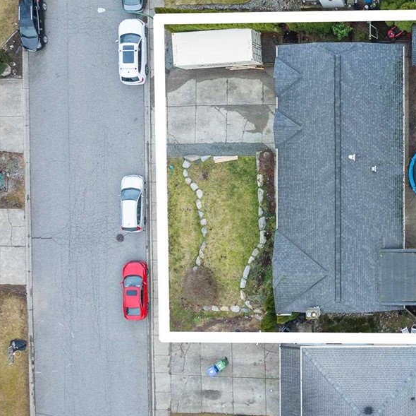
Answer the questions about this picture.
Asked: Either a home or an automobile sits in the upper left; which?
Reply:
automobile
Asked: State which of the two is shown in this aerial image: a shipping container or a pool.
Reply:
shipping container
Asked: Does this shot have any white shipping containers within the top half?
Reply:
Yes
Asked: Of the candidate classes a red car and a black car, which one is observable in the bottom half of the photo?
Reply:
red car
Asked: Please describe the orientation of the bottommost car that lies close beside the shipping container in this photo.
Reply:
from top to bottom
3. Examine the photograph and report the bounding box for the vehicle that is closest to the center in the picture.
[117,175,148,232]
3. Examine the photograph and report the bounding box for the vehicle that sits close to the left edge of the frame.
[15,0,50,53]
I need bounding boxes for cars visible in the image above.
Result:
[15,0,50,53]
[117,175,148,232]
[121,0,149,14]
[116,21,149,85]
[120,262,151,319]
